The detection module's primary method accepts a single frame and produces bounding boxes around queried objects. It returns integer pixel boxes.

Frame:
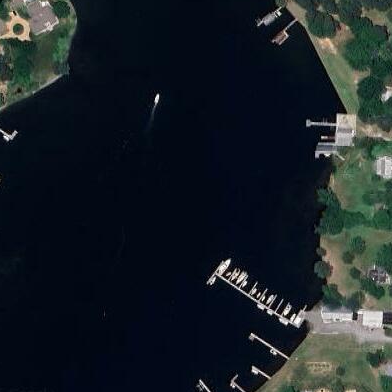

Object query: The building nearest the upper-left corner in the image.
[27,0,58,34]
